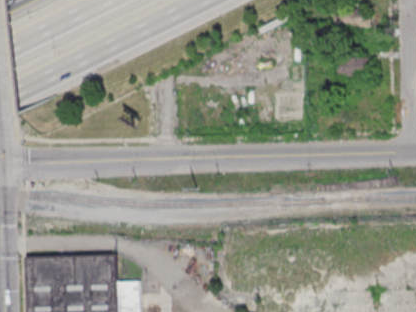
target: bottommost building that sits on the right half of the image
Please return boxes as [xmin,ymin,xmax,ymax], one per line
[338,56,371,77]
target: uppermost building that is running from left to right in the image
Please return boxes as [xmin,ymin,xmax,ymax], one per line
[342,12,374,30]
